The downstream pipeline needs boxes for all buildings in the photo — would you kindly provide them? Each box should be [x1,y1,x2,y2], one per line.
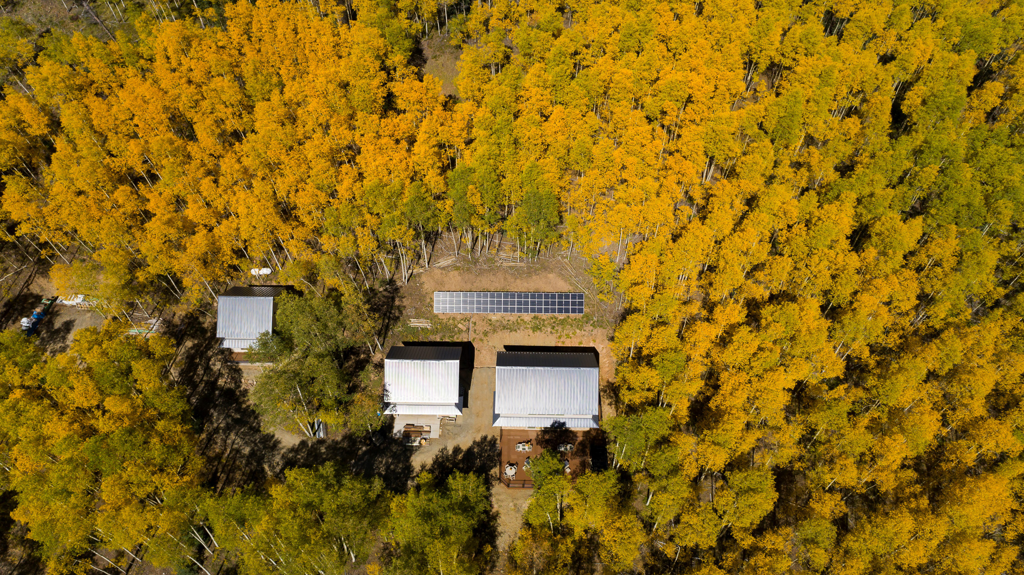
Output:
[215,286,283,351]
[494,351,599,430]
[383,346,462,422]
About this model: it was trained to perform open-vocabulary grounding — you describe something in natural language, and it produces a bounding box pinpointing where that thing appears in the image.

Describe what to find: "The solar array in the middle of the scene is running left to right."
[433,291,585,319]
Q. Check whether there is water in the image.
No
